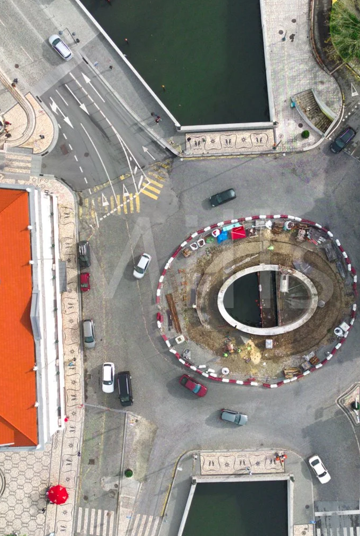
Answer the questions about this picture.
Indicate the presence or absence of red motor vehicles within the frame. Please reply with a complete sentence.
Yes, the image includes a red motor vehicle.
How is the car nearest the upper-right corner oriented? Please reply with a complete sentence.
I'd say the car nearest the upper-right corner is aligned at an angle in the picture.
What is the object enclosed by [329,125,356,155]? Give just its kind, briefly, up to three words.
car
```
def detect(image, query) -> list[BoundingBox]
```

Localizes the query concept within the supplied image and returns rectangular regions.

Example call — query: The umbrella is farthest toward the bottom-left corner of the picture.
[48,483,69,504]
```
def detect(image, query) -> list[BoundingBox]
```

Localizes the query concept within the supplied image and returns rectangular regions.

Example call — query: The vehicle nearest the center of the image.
[133,250,152,281]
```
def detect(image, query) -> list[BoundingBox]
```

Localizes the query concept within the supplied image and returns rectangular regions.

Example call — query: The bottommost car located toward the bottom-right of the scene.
[309,453,329,484]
